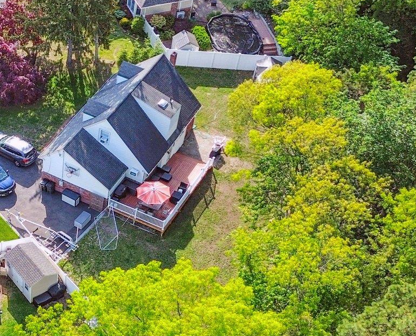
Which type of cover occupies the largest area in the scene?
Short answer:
trees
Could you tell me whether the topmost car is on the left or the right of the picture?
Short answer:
left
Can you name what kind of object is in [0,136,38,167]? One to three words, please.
car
